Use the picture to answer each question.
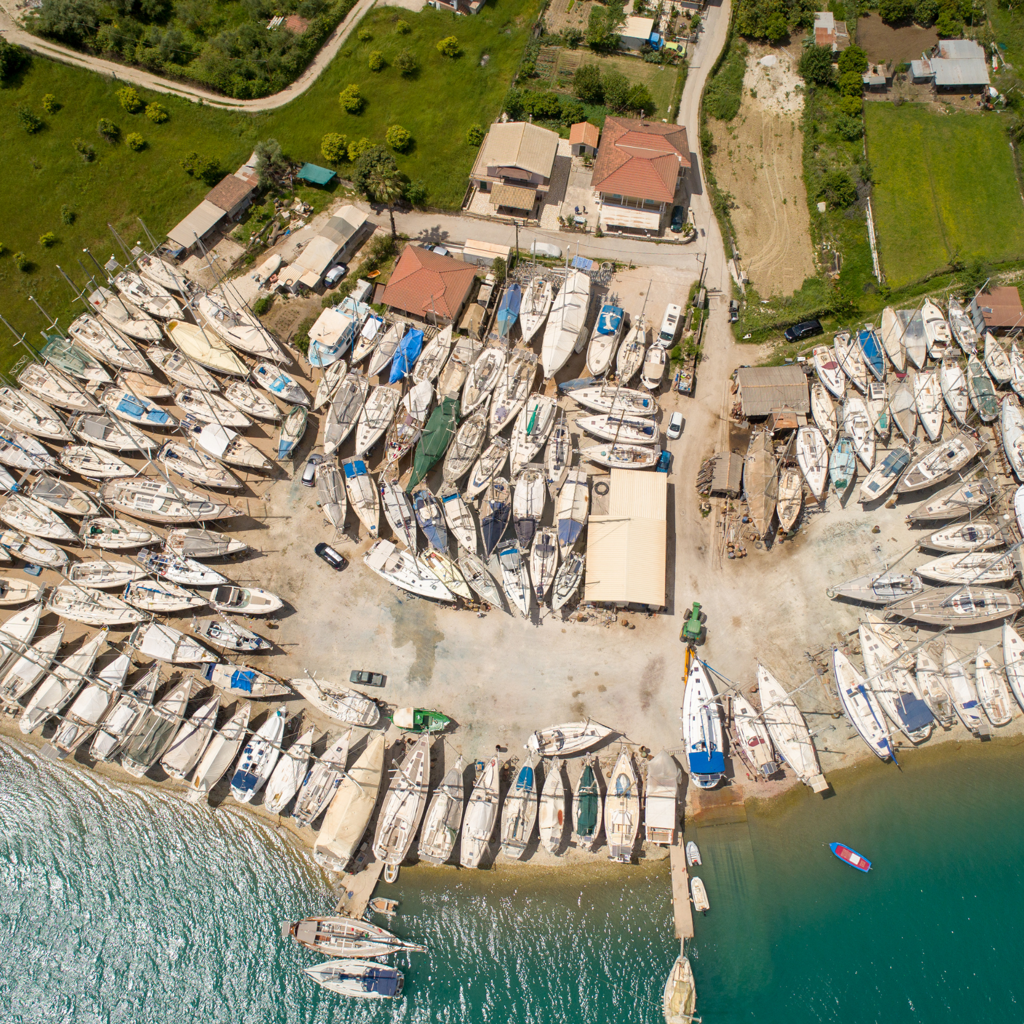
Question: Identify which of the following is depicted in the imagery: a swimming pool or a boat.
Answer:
boat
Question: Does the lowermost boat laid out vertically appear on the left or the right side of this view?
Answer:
right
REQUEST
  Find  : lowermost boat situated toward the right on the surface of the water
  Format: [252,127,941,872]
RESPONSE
[664,951,697,1024]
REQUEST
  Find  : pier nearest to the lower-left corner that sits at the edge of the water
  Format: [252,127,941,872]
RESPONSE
[335,858,384,920]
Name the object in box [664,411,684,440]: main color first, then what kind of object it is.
white car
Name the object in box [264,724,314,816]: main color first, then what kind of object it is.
white boat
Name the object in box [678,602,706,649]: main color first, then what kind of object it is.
green work vehicle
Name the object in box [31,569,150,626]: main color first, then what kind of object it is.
white boat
